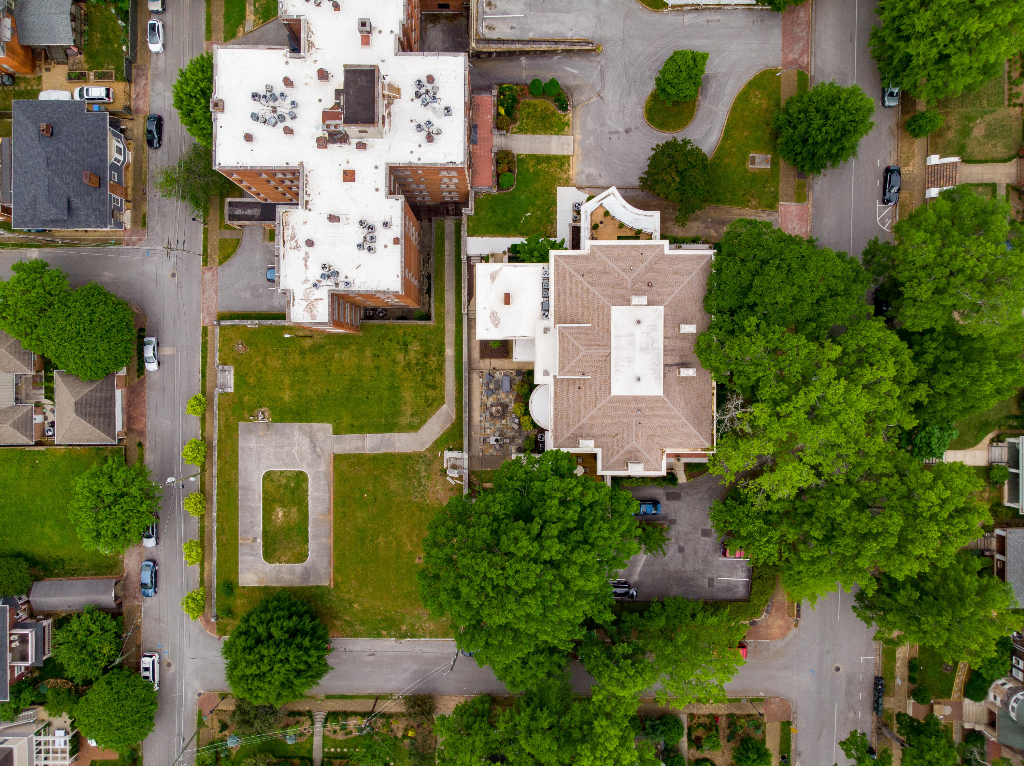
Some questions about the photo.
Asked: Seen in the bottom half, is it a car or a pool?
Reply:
car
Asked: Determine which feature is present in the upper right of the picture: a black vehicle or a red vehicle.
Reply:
black vehicle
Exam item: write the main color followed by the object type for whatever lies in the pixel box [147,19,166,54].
white car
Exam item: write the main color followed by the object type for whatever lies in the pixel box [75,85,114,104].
white car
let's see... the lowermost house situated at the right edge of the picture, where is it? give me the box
[959,628,1024,751]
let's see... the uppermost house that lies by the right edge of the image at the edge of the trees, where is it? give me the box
[985,437,1024,514]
